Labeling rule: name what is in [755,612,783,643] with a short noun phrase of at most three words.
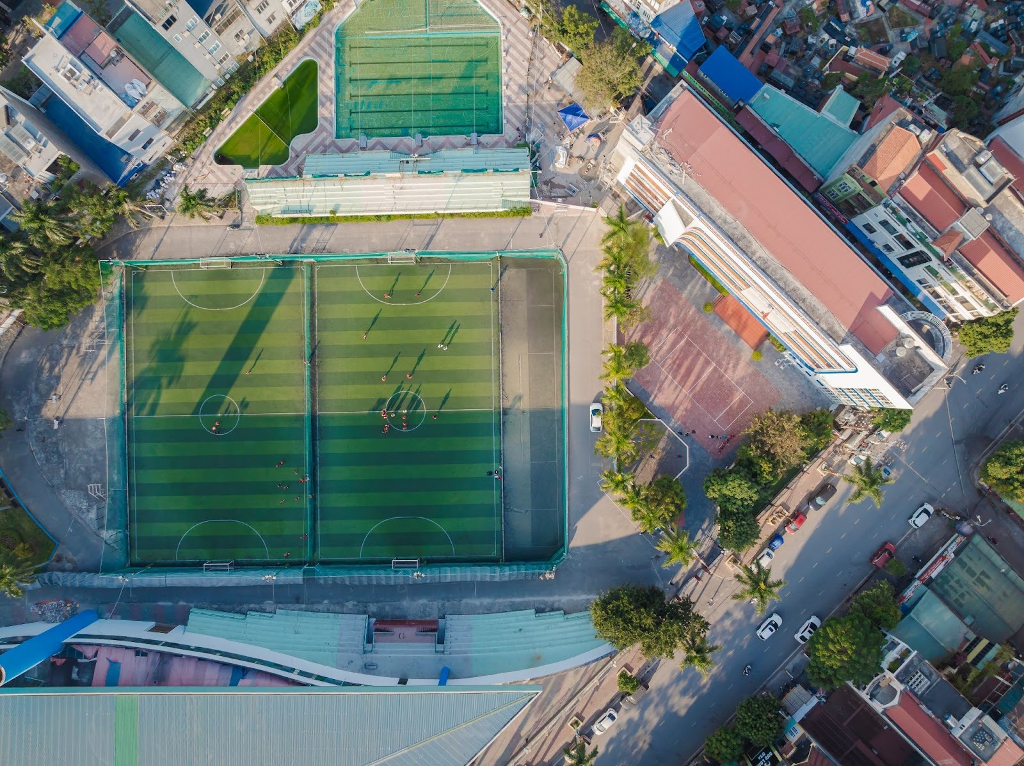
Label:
car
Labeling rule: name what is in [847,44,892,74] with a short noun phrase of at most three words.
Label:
building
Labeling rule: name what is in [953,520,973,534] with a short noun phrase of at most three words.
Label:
umbrella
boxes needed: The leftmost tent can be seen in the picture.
[556,106,590,136]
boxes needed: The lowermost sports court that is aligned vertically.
[503,259,566,566]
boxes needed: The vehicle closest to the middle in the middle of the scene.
[589,404,603,431]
